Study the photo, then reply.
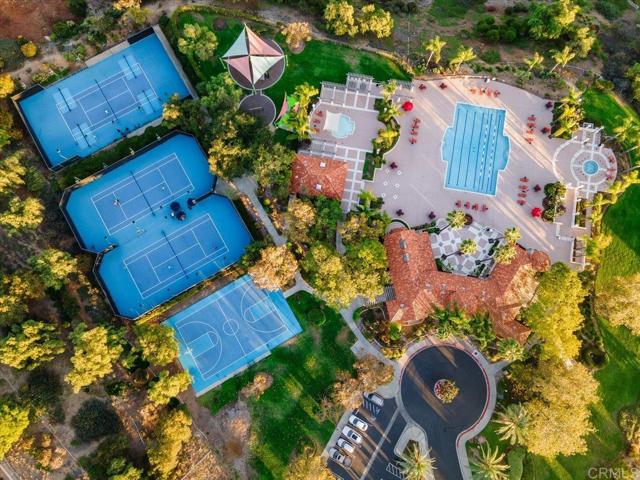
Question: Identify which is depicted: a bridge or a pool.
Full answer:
The one in the frame is a pool.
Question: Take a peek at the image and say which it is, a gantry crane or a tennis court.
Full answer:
The image shows a tennis court.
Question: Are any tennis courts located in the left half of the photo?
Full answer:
Yes, there is a tennis court in the left half of the photo.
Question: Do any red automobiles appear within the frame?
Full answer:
No, the scene contains no red automobile.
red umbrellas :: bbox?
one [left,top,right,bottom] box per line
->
[529,207,541,218]
[402,102,412,112]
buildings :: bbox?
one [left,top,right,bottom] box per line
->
[382,216,551,344]
[291,155,347,199]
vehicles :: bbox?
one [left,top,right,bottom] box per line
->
[348,414,368,431]
[363,391,384,408]
[342,426,362,442]
[336,437,355,452]
[328,448,349,465]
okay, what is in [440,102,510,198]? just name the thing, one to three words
swimming pool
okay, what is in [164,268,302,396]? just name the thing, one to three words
basketball court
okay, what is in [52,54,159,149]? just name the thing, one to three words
tennis court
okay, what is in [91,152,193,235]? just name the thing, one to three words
tennis court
